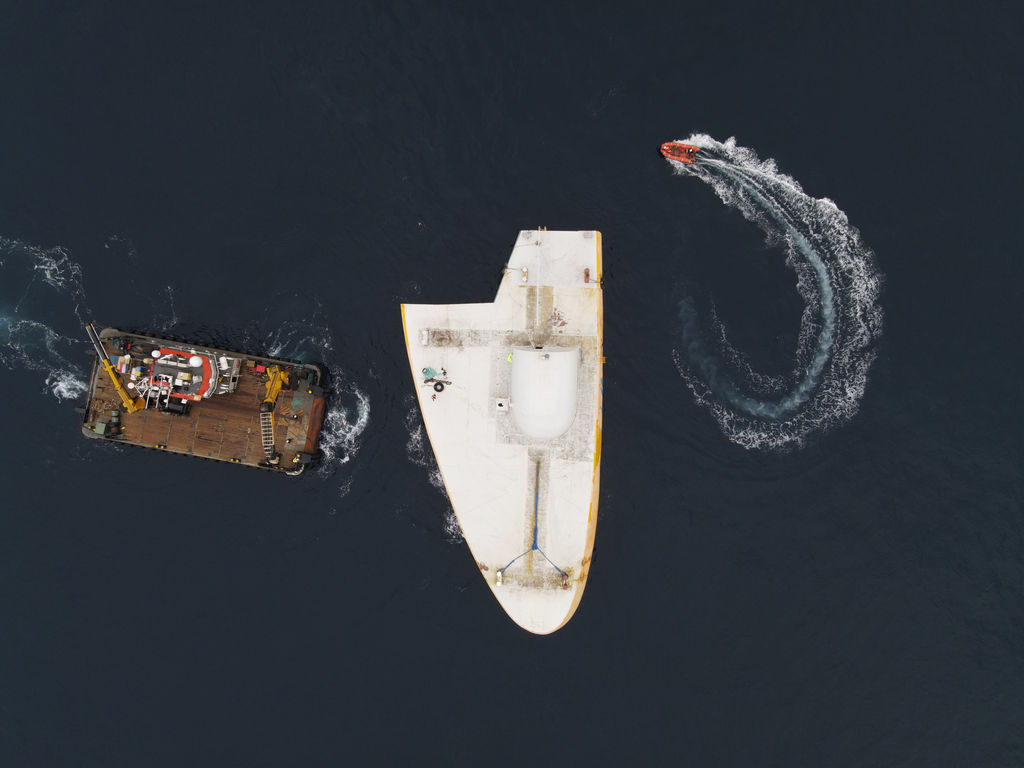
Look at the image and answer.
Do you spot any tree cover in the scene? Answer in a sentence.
No, there's no tree cover in this view.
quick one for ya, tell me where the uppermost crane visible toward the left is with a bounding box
[84,321,147,413]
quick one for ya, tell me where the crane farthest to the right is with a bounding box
[260,366,292,464]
